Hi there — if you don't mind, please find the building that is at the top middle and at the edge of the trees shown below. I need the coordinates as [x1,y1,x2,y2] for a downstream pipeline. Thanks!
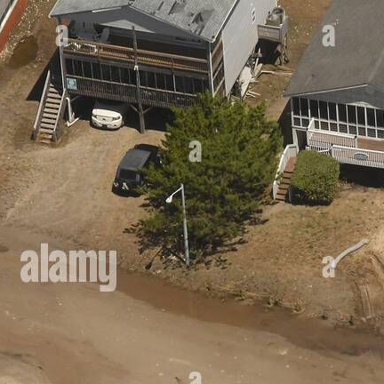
[30,0,296,139]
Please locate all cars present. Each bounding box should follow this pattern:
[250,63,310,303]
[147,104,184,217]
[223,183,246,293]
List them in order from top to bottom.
[88,101,131,126]
[115,139,163,187]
